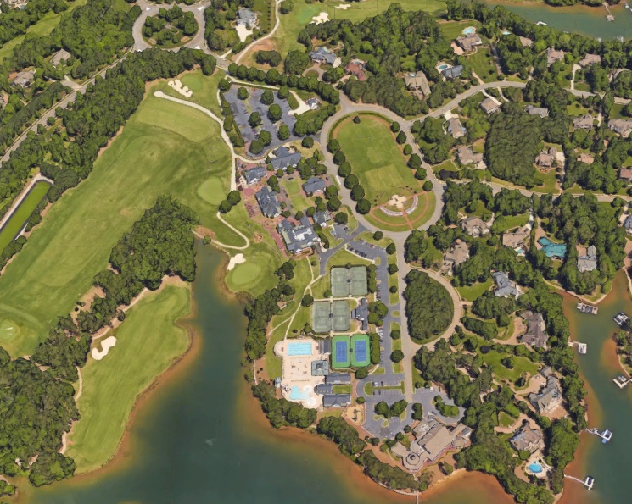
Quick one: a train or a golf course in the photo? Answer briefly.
golf course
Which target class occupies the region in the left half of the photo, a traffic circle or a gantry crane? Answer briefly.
traffic circle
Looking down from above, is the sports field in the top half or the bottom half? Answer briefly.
top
